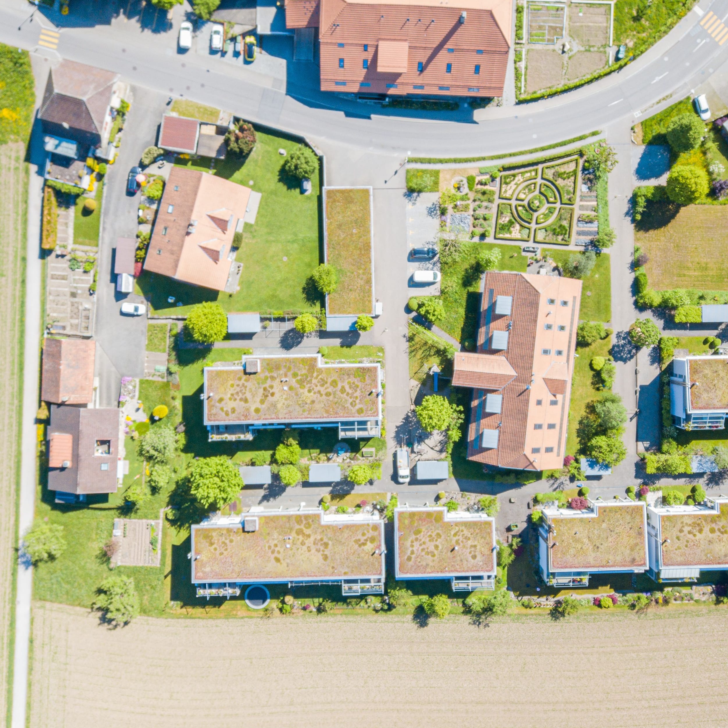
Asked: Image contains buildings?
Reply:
Yes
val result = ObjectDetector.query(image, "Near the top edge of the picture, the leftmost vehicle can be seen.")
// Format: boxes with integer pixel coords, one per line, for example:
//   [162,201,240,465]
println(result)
[179,22,192,48]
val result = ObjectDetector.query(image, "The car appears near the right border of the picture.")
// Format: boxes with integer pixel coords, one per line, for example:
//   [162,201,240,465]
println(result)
[694,94,711,120]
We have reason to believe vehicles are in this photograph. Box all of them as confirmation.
[211,25,222,49]
[412,246,437,258]
[179,22,192,48]
[128,168,139,194]
[414,270,440,282]
[244,36,256,60]
[121,303,145,314]
[398,448,410,483]
[694,94,711,120]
